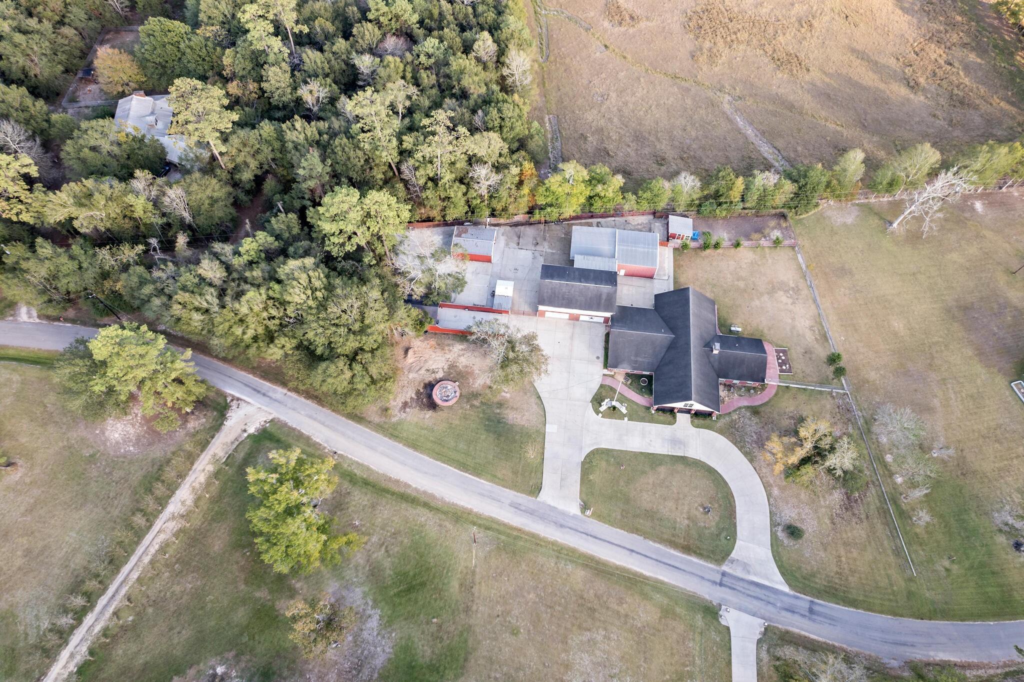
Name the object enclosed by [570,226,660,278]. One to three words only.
building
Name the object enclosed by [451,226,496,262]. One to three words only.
shed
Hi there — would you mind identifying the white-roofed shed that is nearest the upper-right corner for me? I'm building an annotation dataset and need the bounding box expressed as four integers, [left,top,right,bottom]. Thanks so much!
[667,215,693,245]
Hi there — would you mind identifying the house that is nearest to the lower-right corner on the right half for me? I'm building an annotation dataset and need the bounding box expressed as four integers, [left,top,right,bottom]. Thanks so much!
[608,287,769,416]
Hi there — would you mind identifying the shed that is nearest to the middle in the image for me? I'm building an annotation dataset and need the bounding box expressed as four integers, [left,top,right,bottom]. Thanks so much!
[493,280,514,311]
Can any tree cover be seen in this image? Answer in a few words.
Yes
